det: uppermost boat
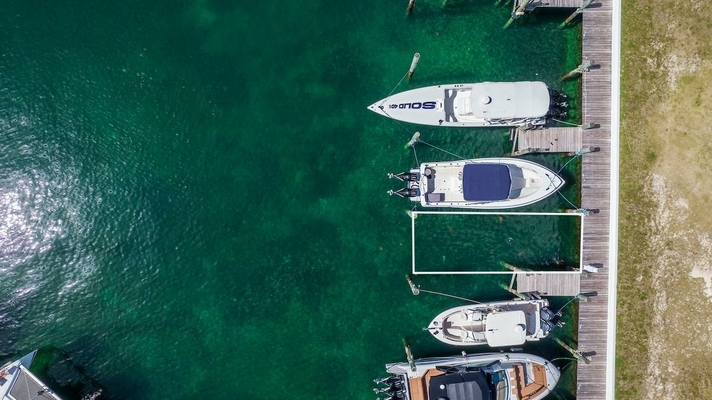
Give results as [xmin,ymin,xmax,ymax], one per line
[368,81,565,128]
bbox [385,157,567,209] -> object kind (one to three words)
boat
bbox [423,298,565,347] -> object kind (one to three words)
boat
